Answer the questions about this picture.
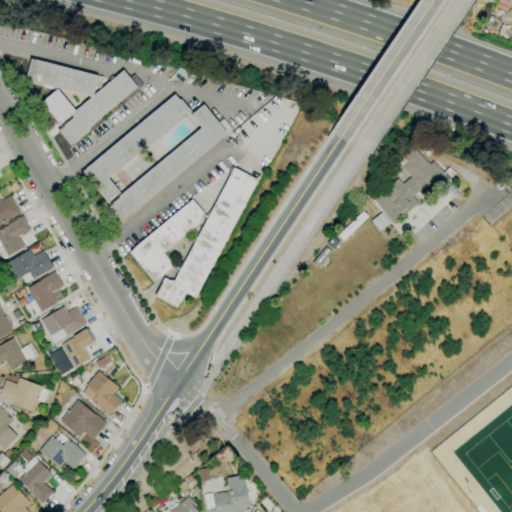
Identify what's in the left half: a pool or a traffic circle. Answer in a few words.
pool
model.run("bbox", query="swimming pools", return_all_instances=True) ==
[162,122,191,149]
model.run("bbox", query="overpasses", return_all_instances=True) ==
[329,0,476,156]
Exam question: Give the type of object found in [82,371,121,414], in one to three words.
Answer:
house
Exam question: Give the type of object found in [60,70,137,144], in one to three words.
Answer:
building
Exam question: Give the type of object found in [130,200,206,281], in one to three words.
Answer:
building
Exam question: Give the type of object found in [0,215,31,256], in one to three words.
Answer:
house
